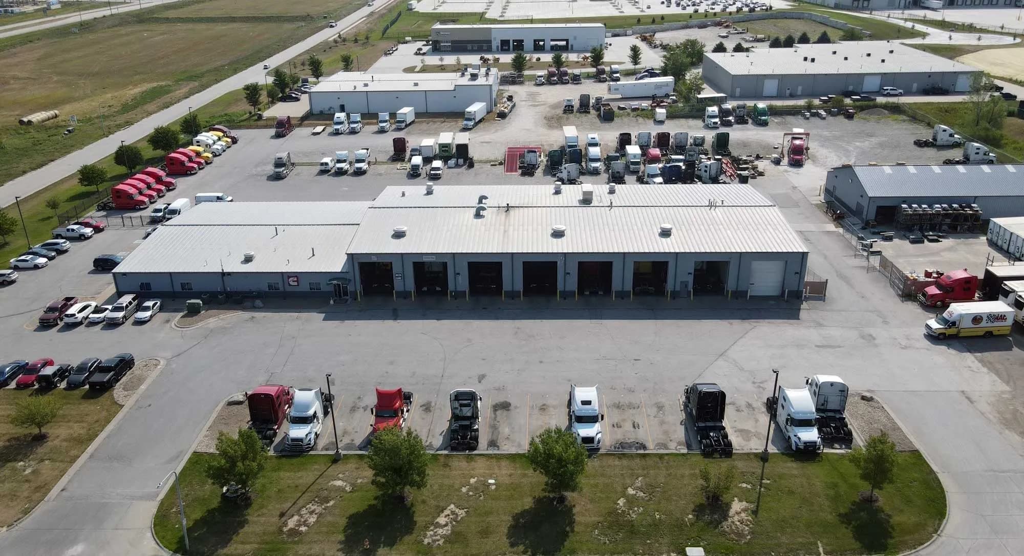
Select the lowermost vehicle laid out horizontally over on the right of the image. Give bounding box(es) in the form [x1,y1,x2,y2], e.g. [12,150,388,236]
[922,297,1020,341]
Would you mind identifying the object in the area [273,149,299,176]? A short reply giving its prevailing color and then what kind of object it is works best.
gray truck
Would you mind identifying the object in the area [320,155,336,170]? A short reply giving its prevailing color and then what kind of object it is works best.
white vehicle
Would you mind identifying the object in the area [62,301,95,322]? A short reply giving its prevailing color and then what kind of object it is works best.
white car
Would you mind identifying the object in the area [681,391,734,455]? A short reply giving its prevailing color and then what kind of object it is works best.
black truck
